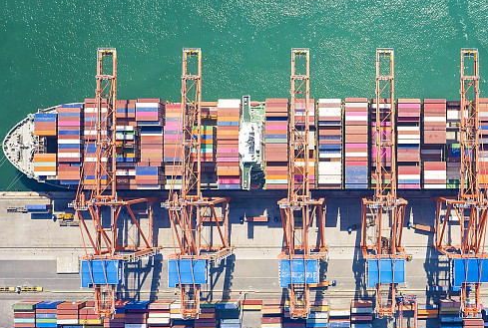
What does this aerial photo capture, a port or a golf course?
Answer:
port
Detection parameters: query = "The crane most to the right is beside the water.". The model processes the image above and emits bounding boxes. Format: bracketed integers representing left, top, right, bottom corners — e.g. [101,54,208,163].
[426,48,488,319]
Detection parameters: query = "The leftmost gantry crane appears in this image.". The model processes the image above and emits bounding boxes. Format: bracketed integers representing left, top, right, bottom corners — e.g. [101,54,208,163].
[66,49,170,319]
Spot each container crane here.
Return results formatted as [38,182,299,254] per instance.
[66,49,170,319]
[160,49,241,319]
[354,49,411,319]
[397,292,419,328]
[426,48,488,319]
[278,49,333,319]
